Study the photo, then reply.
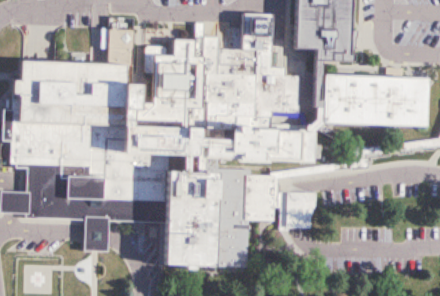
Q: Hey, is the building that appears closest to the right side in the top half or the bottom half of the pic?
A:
top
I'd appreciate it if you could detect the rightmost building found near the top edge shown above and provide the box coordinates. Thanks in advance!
[295,0,354,65]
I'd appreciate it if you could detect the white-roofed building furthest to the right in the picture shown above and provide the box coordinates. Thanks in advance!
[324,67,430,128]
